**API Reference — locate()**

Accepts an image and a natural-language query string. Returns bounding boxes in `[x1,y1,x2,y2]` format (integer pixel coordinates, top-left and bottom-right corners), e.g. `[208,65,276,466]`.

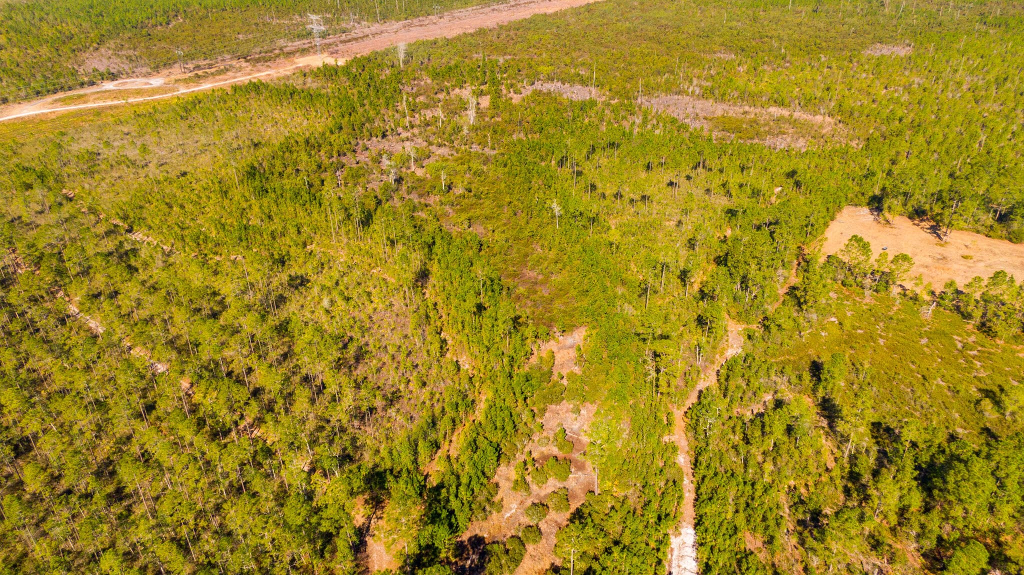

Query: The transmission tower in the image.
[306,15,324,59]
